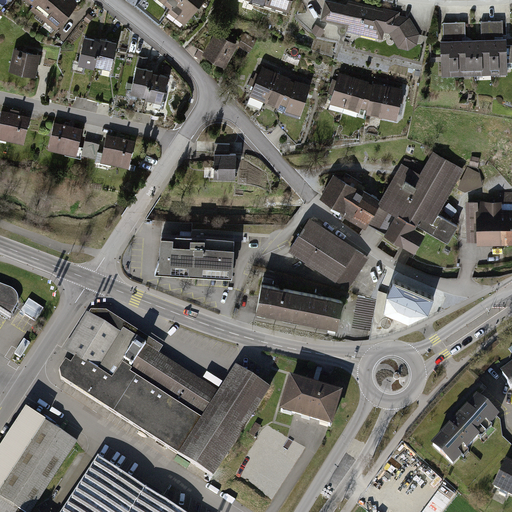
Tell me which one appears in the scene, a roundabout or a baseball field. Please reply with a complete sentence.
Of the two, only a roundabout appears.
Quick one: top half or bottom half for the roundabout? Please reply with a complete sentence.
It is in the bottom half that the roundabout appears.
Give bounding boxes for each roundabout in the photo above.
[358,342,425,408]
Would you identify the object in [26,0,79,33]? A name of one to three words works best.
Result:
house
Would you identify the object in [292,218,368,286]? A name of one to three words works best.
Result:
barn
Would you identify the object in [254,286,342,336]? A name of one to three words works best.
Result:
building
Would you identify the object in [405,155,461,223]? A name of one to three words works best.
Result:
barn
